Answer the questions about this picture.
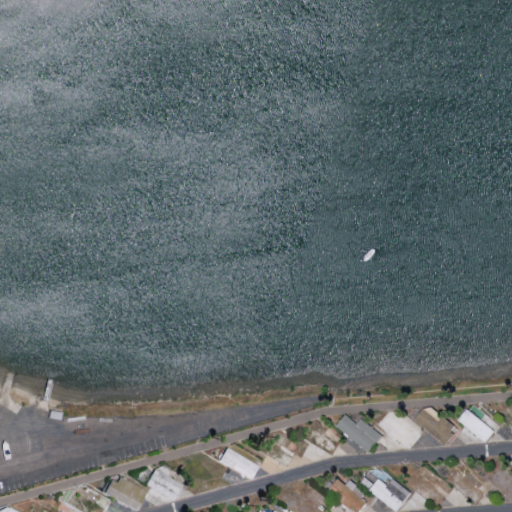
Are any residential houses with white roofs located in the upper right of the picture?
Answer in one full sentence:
No, the scene shows no residential house with a white roof in the upper right of the picture.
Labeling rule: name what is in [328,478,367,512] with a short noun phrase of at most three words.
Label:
house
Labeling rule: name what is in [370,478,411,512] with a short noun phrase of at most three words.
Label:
house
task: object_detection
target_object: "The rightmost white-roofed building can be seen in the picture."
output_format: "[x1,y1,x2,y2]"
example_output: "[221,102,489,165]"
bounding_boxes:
[458,406,494,443]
